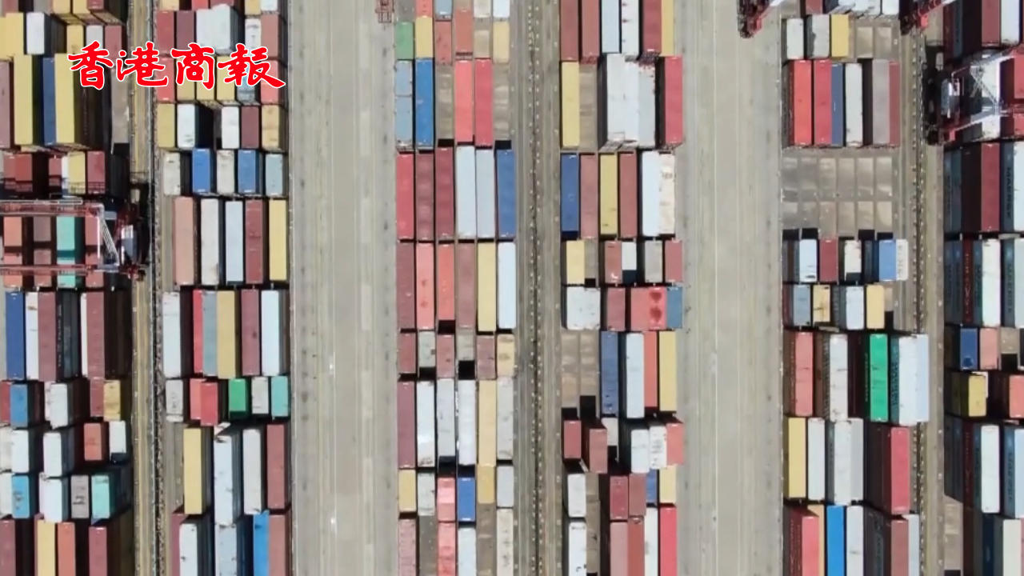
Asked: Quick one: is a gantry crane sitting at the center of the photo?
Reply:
No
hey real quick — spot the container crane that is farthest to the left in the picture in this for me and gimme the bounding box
[0,184,149,284]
